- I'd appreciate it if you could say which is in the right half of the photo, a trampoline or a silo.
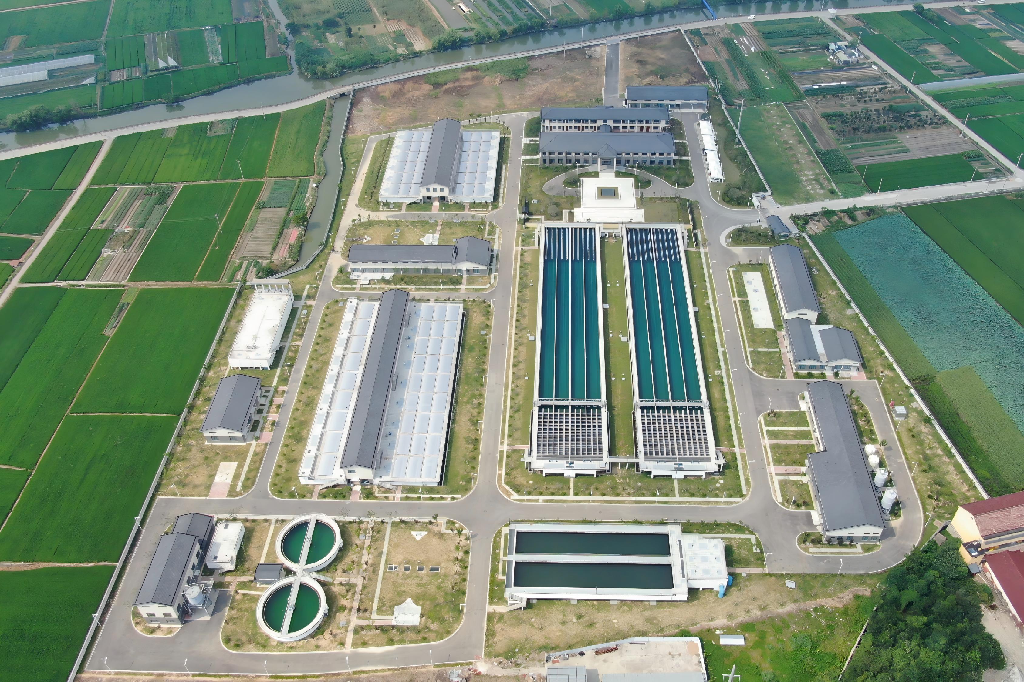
silo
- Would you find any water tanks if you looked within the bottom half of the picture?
Yes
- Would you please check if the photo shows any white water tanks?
Yes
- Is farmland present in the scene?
Yes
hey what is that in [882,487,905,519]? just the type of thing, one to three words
silo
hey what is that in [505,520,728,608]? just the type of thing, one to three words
water tank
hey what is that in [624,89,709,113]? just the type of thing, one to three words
building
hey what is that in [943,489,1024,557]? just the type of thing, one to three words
house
